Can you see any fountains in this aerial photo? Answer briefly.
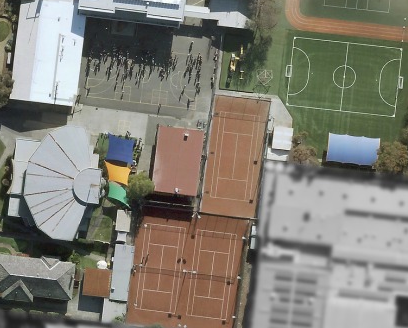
No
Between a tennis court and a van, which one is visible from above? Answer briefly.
tennis court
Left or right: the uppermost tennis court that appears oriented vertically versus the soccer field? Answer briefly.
left of it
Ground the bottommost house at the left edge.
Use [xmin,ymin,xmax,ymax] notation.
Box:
[0,252,75,306]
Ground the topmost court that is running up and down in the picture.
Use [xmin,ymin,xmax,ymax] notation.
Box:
[202,96,270,216]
